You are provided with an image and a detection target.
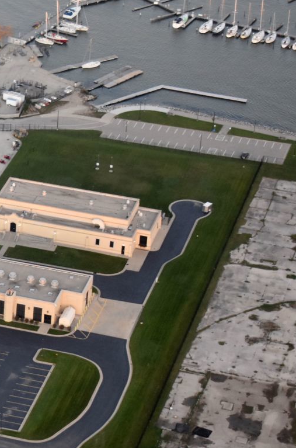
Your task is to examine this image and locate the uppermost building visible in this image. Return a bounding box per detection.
[0,177,162,256]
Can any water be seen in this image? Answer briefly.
Yes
